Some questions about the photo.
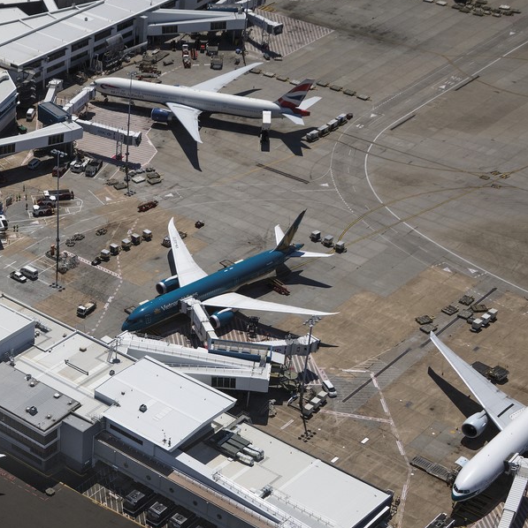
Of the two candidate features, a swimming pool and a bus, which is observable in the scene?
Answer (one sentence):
This aerial view contains a bus.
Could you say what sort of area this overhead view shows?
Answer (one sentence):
It's an airport.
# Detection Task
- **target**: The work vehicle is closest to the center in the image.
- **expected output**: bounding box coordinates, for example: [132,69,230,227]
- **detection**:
[268,273,290,293]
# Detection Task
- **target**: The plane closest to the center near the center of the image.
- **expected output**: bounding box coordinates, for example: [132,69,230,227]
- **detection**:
[120,209,336,333]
